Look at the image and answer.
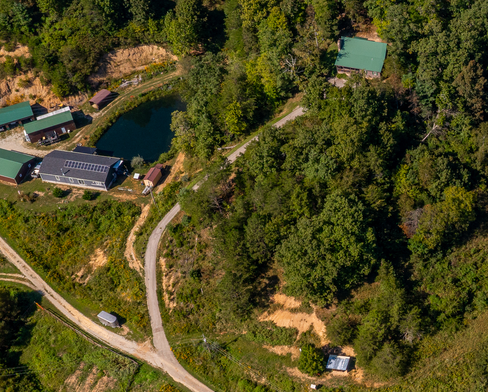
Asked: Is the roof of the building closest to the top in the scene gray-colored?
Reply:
No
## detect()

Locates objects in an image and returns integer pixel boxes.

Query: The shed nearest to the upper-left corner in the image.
[0,102,34,126]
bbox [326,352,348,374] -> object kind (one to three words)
shed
